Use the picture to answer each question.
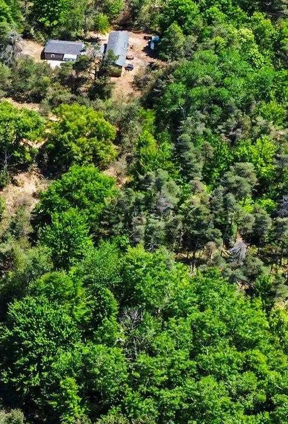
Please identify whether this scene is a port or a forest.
forest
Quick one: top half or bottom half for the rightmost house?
top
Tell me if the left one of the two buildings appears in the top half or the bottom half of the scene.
top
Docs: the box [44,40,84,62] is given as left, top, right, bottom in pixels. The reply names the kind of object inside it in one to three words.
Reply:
building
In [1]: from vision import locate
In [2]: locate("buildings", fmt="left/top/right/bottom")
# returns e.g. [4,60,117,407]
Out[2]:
[96,33,130,79]
[44,40,84,62]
